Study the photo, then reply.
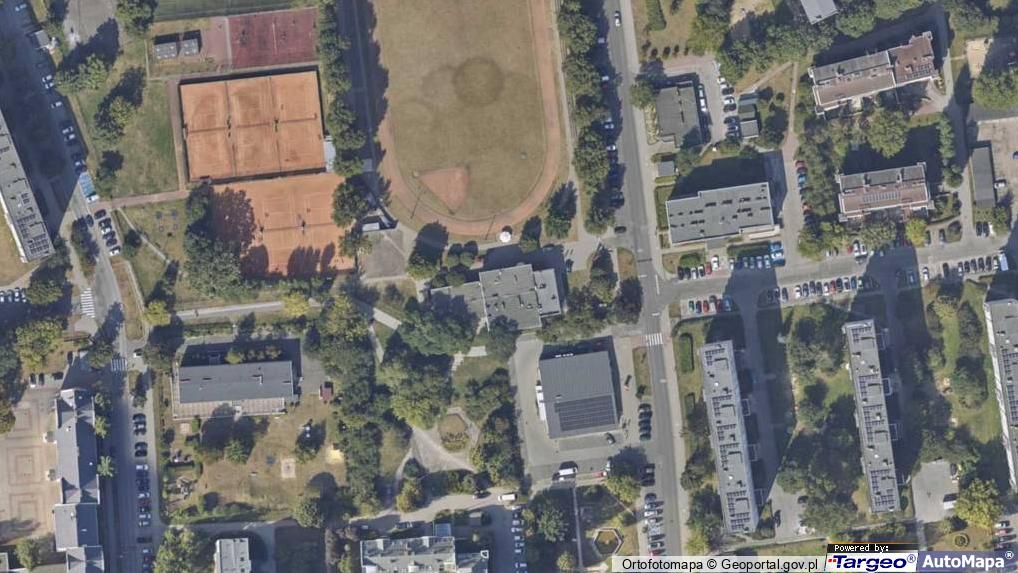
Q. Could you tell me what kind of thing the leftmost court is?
tennis court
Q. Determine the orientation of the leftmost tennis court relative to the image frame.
from top to bottom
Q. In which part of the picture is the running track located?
top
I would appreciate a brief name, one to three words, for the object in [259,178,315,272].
tennis court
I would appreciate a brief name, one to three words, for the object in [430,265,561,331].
building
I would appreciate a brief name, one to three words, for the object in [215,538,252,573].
house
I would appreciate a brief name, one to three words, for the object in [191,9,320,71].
sports court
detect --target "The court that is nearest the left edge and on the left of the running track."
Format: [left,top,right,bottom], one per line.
[182,81,235,179]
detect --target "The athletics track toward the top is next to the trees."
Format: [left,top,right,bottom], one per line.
[364,0,563,236]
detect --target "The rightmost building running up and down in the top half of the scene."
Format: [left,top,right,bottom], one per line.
[972,147,995,207]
